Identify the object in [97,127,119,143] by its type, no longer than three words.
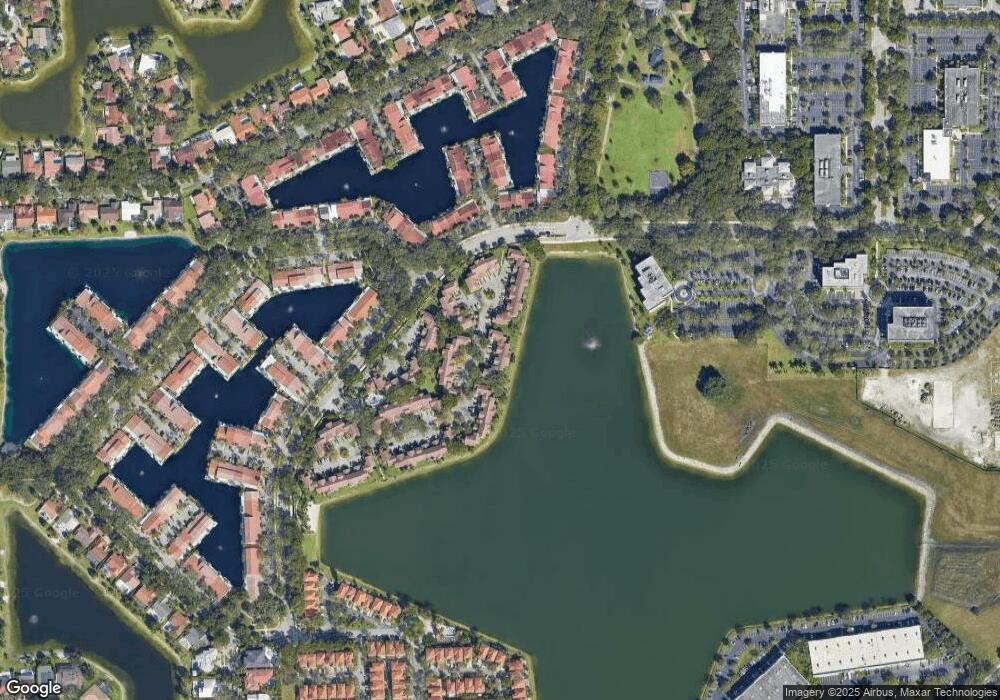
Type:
house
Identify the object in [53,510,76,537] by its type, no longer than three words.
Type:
house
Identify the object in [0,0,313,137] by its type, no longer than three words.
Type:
pond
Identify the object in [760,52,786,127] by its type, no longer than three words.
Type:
building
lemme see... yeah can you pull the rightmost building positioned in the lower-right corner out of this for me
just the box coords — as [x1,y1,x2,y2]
[808,625,924,674]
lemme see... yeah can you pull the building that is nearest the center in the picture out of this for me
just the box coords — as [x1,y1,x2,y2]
[487,329,512,373]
